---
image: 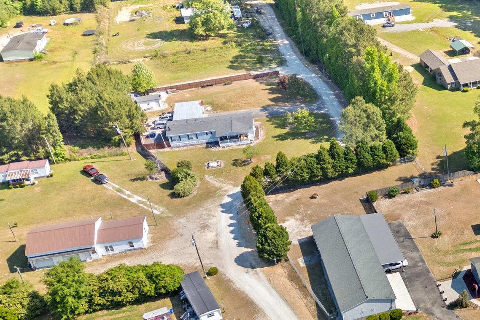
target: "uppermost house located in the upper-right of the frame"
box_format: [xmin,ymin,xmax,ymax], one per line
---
[350,4,411,26]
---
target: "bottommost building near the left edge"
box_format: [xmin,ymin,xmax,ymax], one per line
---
[24,215,148,274]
